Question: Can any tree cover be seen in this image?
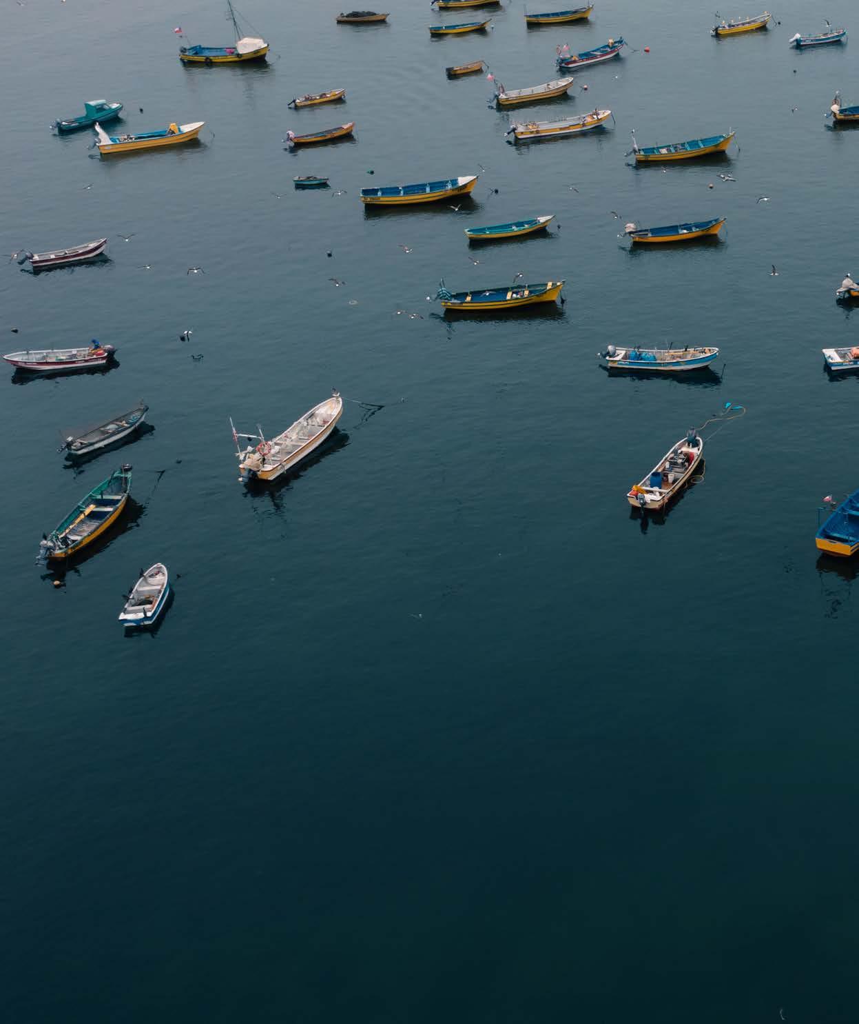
No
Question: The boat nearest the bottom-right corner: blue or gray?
blue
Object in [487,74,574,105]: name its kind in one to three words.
boat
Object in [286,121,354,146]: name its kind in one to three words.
boat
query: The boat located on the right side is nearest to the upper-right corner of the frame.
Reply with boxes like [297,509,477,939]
[791,28,847,48]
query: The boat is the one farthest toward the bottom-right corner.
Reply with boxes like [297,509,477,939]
[815,489,859,558]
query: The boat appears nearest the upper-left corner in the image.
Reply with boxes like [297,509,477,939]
[52,99,123,132]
